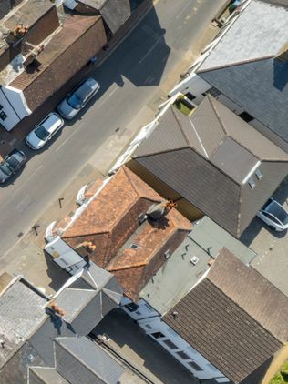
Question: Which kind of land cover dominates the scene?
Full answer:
What you mostly see from above here is buildings.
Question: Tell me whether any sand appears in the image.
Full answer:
No, the scene doesn't show any sand.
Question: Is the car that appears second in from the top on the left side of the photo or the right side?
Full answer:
It is on the left.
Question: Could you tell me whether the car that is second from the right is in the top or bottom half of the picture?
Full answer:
The car that is second from the right sits in the top half of the picture.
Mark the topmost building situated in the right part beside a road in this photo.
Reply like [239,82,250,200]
[168,0,288,154]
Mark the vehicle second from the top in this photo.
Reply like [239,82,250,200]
[23,109,71,152]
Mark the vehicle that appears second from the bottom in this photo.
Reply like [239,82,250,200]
[0,148,31,185]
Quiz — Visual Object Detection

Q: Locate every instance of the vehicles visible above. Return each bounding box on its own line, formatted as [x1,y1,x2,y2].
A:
[0,148,31,185]
[254,201,288,241]
[54,73,106,120]
[23,109,71,152]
